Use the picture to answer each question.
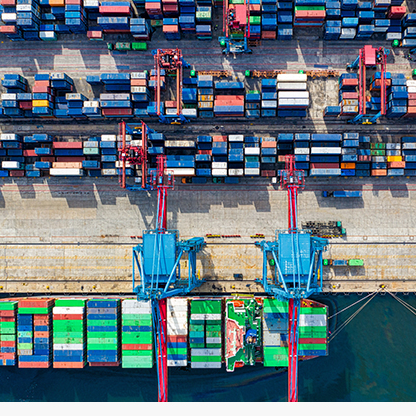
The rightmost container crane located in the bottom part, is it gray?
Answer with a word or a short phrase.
No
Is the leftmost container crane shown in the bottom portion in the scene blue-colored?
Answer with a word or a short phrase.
Yes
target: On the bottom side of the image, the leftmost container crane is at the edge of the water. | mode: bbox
[131,154,209,416]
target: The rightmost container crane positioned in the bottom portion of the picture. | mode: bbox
[256,154,331,416]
